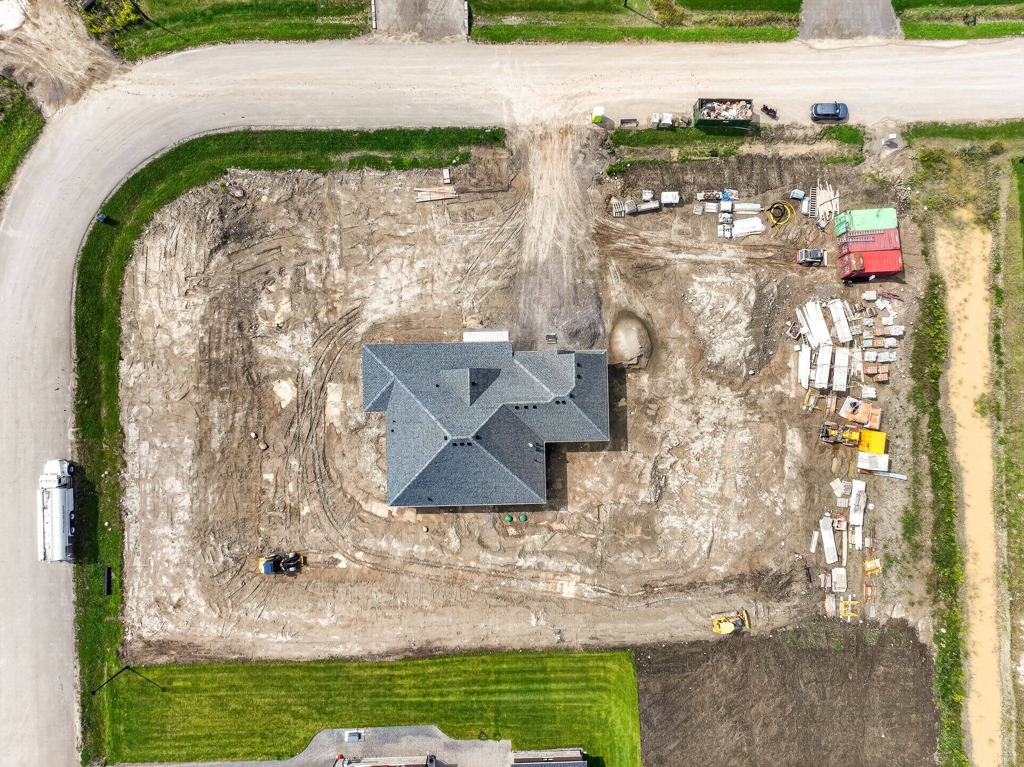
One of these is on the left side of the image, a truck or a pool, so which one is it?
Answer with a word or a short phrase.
truck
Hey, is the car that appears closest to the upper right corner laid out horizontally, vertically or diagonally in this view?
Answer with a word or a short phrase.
horizontally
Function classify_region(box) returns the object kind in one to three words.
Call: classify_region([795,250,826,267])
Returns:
work vehicle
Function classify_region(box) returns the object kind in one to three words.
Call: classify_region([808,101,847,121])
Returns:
car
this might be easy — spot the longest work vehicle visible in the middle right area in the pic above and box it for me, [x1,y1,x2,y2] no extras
[808,422,863,447]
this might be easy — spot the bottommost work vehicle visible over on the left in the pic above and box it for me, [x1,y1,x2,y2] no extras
[257,551,303,575]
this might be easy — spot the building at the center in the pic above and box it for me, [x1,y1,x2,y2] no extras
[361,341,610,507]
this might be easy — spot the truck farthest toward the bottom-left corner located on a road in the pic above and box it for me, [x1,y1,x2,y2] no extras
[38,458,73,562]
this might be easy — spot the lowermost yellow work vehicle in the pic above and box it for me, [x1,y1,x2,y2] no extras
[713,606,749,636]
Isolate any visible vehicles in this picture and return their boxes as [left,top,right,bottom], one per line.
[795,250,826,267]
[808,422,863,447]
[257,551,303,575]
[808,101,847,121]
[713,606,749,636]
[38,458,73,562]
[760,105,778,119]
